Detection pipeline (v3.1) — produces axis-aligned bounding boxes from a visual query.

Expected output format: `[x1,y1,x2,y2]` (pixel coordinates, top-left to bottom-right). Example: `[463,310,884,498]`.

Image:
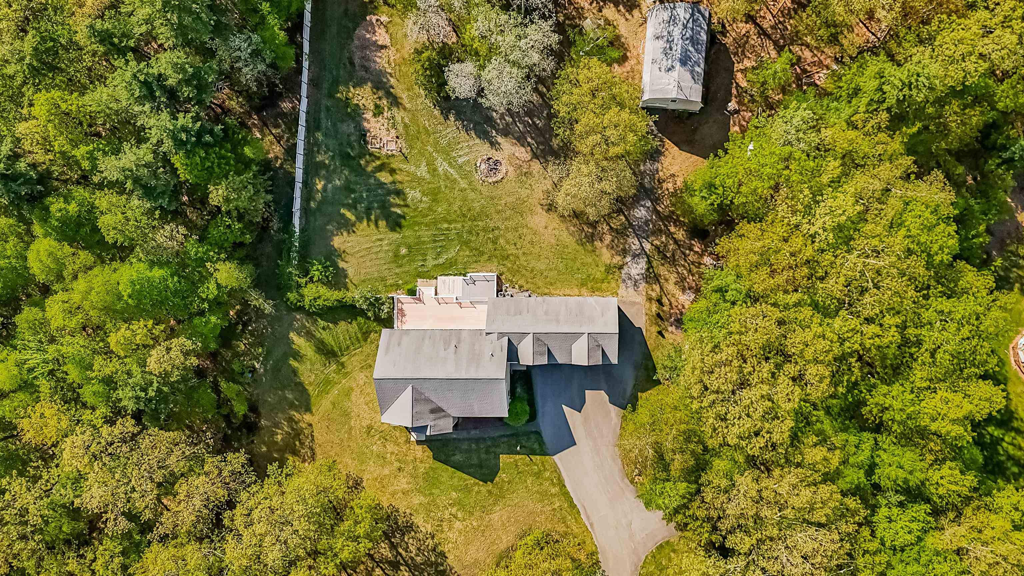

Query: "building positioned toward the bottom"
[373,296,620,437]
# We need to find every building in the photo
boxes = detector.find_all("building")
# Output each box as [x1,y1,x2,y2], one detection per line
[373,296,620,437]
[639,2,712,113]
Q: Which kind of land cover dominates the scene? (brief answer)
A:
trees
